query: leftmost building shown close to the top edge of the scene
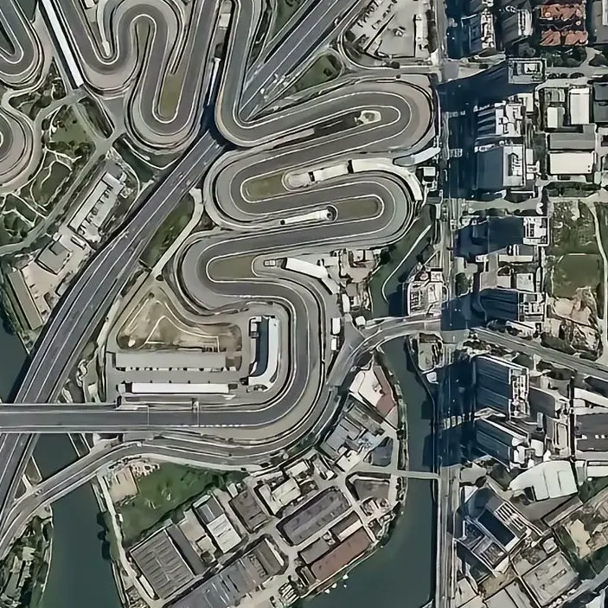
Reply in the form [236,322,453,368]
[39,0,85,88]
